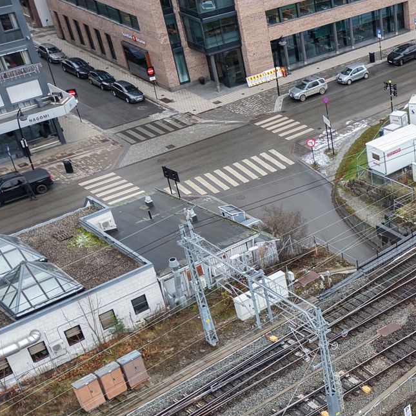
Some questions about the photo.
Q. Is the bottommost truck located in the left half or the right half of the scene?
left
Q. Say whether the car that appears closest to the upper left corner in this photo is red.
No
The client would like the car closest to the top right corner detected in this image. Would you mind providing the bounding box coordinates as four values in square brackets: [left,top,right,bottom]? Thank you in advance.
[387,42,416,64]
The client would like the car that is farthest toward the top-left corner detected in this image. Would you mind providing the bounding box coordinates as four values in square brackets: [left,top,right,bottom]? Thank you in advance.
[35,41,63,61]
